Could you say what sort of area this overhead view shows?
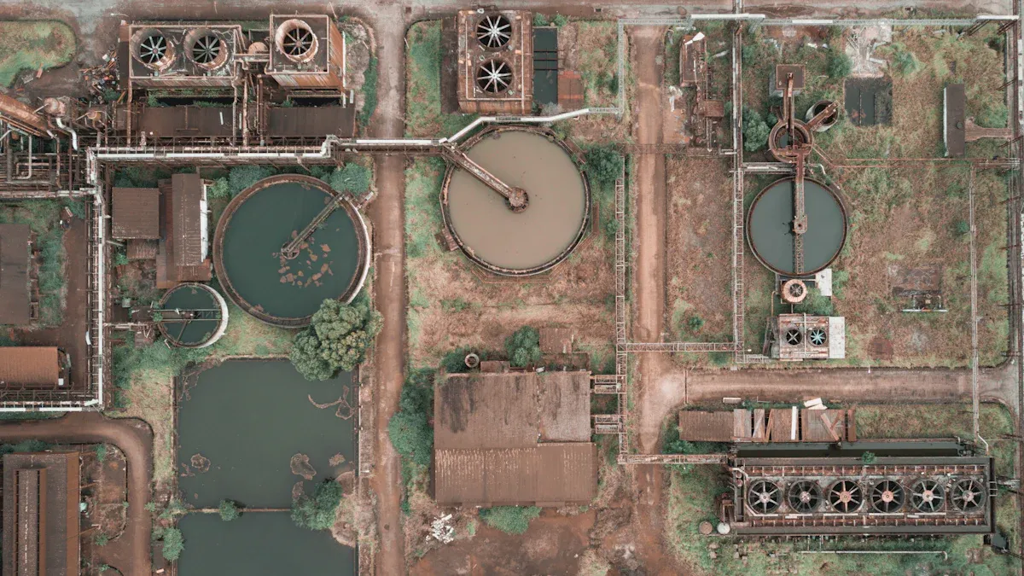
industrial area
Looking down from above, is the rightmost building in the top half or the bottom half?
top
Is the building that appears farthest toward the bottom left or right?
left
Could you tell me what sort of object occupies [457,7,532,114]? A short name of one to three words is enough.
cooling tower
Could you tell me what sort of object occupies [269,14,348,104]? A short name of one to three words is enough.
cooling tower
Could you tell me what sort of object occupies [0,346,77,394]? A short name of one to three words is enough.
shed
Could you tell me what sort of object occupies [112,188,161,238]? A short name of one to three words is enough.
building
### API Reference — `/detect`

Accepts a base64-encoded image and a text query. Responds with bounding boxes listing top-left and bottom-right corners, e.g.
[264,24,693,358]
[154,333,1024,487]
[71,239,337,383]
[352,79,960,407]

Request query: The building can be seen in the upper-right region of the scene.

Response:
[945,84,965,155]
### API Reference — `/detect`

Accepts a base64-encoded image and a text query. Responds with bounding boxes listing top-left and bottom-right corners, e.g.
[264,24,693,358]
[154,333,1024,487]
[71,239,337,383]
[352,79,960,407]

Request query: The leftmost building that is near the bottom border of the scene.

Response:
[3,451,85,576]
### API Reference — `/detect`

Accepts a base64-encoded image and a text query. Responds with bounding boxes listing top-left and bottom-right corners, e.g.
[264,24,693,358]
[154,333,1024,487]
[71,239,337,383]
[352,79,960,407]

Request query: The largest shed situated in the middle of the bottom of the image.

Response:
[434,371,597,507]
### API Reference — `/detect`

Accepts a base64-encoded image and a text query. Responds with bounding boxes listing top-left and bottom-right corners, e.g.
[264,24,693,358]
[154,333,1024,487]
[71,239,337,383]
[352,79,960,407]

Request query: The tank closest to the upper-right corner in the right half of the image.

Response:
[801,98,842,135]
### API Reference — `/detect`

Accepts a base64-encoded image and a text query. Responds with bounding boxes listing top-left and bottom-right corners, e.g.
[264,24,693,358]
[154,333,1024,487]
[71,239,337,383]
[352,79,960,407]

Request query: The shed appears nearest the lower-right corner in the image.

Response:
[677,410,734,441]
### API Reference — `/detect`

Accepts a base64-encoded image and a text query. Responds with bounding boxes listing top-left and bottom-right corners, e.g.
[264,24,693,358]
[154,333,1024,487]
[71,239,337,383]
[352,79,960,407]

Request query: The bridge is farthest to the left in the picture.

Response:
[285,194,343,256]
